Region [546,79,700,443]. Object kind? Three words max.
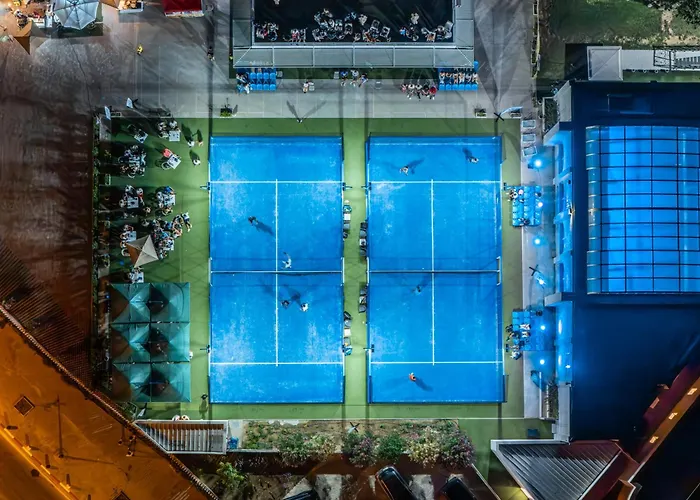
building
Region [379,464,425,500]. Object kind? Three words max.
car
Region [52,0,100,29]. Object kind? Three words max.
umbrella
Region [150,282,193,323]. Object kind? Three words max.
gazebo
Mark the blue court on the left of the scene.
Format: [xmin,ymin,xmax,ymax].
[204,133,344,406]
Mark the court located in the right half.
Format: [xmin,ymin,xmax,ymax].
[366,132,510,406]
